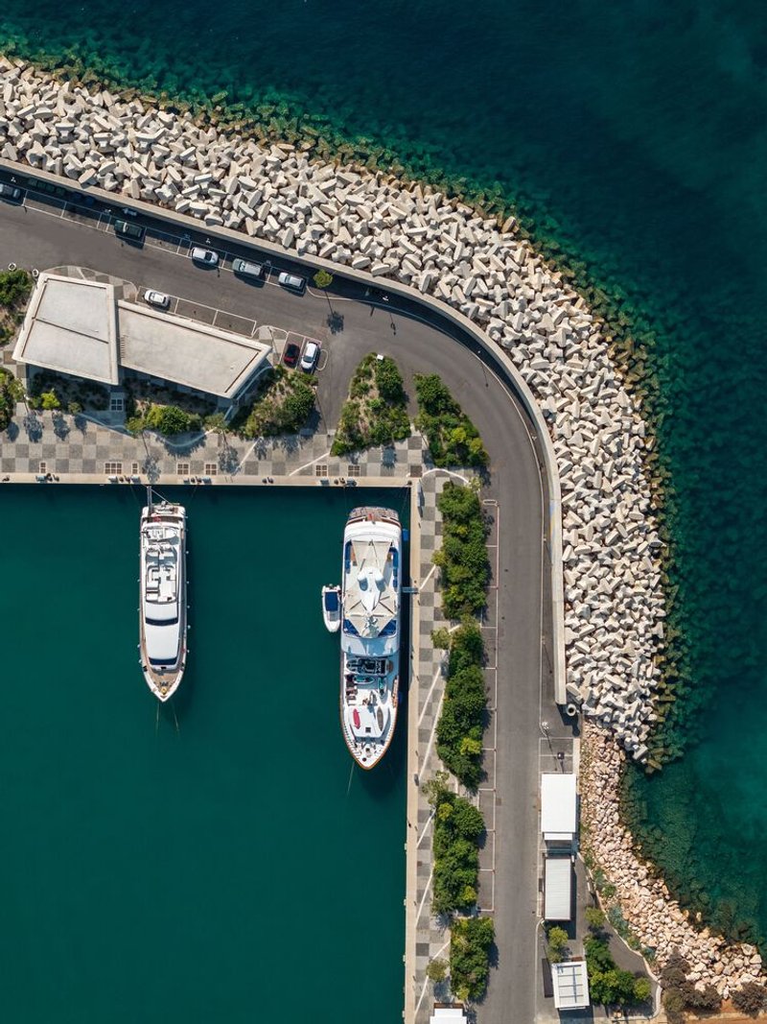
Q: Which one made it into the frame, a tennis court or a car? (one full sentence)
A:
This aerial view contains a car.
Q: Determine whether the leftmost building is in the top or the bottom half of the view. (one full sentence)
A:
The leftmost building sits in the top half of the picture.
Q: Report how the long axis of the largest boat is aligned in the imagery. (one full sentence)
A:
Seen from above, the largest boat lies from top to bottom.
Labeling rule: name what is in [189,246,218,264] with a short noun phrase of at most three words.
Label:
car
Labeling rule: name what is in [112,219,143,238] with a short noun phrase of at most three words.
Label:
car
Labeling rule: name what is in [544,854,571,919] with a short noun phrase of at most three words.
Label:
shed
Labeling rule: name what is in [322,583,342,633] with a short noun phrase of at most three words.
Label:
boat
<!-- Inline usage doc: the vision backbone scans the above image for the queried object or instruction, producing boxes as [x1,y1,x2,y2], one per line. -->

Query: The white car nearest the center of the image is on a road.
[301,340,318,370]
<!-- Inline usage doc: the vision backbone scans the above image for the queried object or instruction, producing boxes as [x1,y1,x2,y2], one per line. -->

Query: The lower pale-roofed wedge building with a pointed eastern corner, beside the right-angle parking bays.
[119,300,272,398]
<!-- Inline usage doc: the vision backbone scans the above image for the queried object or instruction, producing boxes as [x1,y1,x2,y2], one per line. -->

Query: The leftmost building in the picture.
[12,272,122,385]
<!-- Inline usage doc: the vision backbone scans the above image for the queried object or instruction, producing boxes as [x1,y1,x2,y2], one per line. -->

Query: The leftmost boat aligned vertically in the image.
[137,485,196,724]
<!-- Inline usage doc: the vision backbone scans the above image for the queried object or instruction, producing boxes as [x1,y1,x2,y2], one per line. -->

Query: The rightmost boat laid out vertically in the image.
[340,485,418,791]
